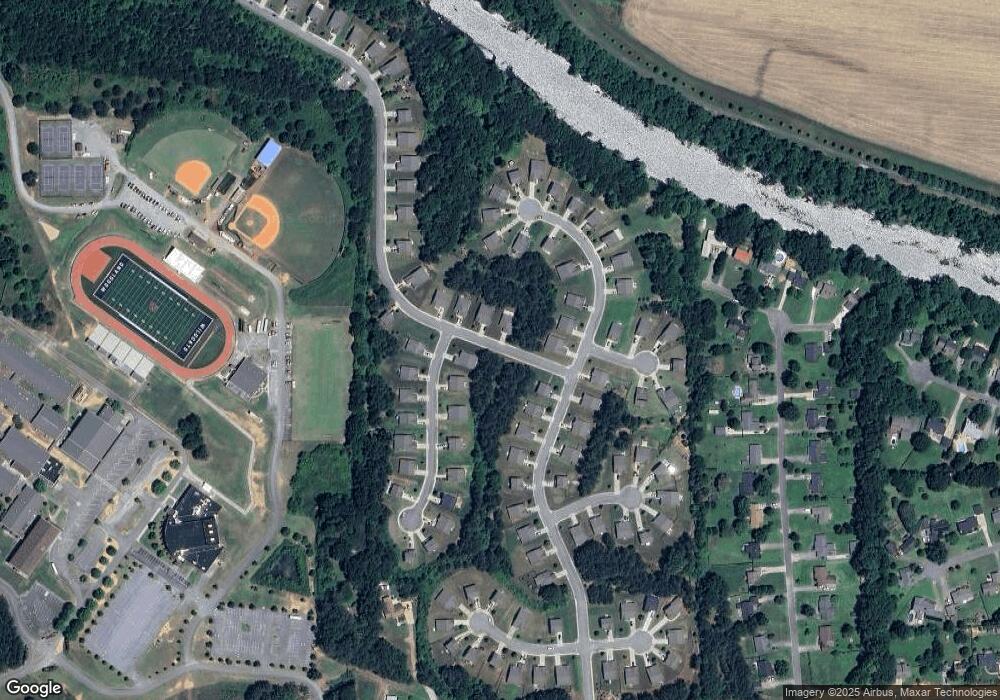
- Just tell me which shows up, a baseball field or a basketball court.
baseball field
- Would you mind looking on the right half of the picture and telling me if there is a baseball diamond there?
No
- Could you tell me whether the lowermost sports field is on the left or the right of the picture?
left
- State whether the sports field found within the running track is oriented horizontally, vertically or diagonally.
diagonally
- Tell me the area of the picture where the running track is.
left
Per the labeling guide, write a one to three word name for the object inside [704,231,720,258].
house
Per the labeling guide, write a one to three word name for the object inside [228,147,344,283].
baseball field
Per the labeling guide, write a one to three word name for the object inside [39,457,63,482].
building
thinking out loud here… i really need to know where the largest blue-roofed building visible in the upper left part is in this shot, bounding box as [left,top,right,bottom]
[257,138,282,167]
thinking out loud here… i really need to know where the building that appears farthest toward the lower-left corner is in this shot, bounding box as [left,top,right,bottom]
[8,517,62,578]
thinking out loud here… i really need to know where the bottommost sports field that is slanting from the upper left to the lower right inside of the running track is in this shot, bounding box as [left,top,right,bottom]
[94,254,213,360]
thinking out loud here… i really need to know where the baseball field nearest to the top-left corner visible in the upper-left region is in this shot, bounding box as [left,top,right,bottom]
[128,111,240,195]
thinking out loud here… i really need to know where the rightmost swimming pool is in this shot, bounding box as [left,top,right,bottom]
[953,432,970,455]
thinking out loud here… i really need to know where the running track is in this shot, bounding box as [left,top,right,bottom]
[71,236,235,379]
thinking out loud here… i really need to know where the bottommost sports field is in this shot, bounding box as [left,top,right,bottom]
[291,318,350,441]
